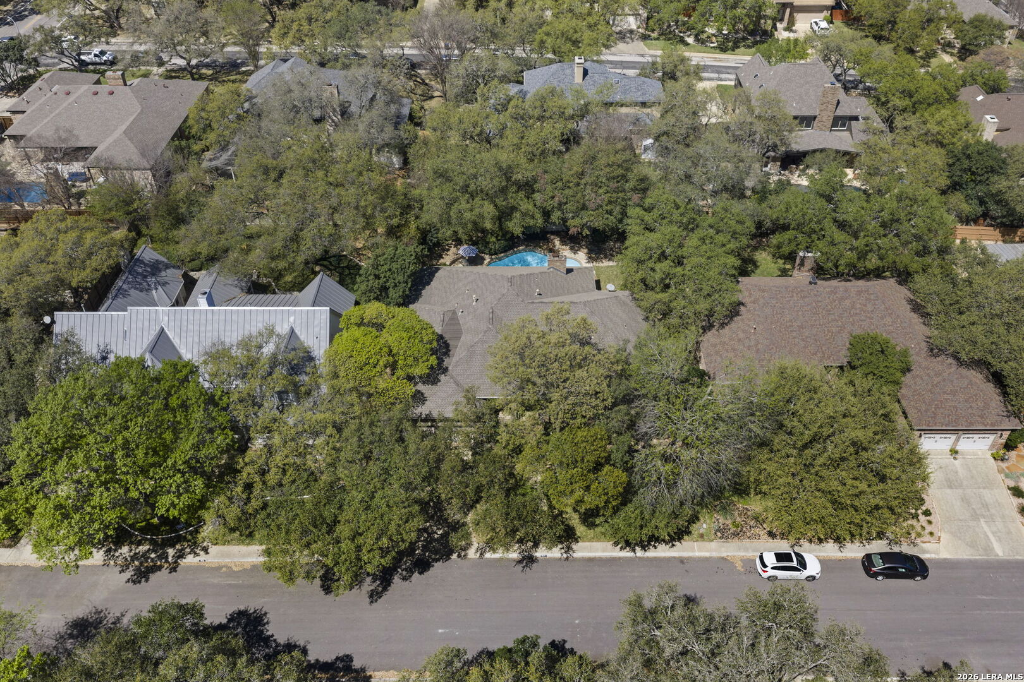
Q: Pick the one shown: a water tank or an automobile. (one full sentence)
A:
There is an automobile in the scene.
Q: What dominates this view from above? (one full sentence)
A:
The bulk of the photo consists of trees.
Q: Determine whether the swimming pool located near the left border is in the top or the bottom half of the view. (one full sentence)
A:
Seen from above, the swimming pool located near the left border lies in the top half of the view.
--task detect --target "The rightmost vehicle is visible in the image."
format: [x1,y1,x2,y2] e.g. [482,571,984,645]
[861,548,932,581]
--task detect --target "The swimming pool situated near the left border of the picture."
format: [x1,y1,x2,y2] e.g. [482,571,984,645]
[0,181,50,203]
